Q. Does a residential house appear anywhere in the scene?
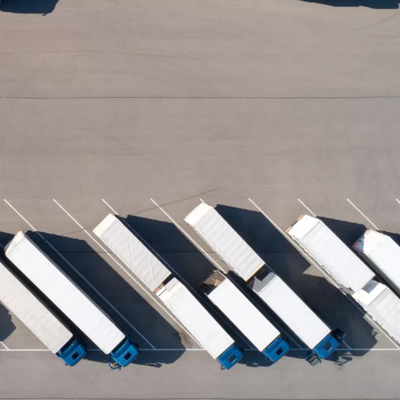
No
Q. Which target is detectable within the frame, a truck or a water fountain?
truck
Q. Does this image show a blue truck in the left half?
Yes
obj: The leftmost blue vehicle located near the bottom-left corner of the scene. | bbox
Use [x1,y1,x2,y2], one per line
[54,323,89,366]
